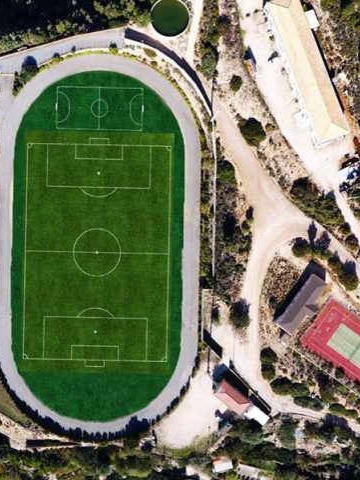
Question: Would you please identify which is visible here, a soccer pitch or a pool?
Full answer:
It is a soccer pitch that can be seen here.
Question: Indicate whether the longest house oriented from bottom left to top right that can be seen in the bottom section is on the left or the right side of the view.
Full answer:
You can find the longest house oriented from bottom left to top right that can be seen in the bottom section on the right side of the picture.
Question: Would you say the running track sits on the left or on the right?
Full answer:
The running track is on the left side of the image.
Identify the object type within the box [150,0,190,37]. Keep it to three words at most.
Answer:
water tank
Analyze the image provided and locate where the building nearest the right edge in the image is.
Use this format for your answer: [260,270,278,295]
[336,160,360,185]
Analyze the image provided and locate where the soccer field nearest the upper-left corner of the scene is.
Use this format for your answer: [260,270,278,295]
[54,84,145,132]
